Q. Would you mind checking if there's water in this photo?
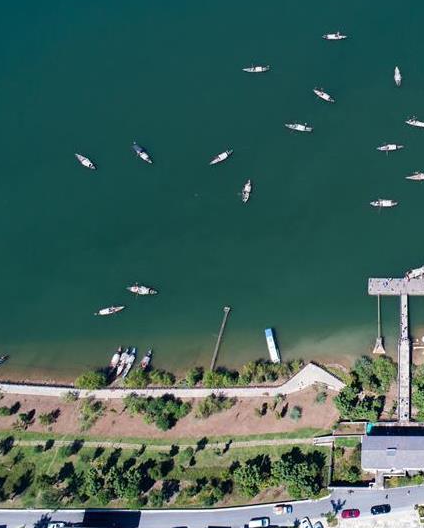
Yes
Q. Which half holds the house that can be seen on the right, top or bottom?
bottom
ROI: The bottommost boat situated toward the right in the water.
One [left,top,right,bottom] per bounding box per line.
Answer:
[264,328,281,364]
